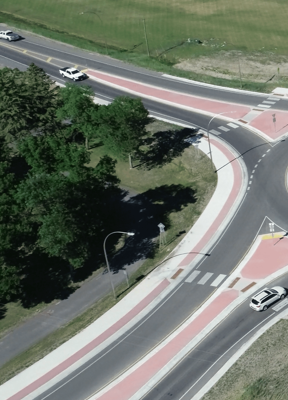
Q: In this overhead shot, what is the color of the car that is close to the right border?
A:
white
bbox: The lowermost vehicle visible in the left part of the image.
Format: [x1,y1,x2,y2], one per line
[59,68,85,81]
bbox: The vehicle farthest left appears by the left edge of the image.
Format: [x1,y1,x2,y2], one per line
[0,30,19,42]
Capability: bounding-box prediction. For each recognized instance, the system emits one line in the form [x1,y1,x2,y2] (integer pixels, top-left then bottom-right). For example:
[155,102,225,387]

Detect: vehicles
[59,68,85,81]
[0,30,19,42]
[249,285,288,311]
